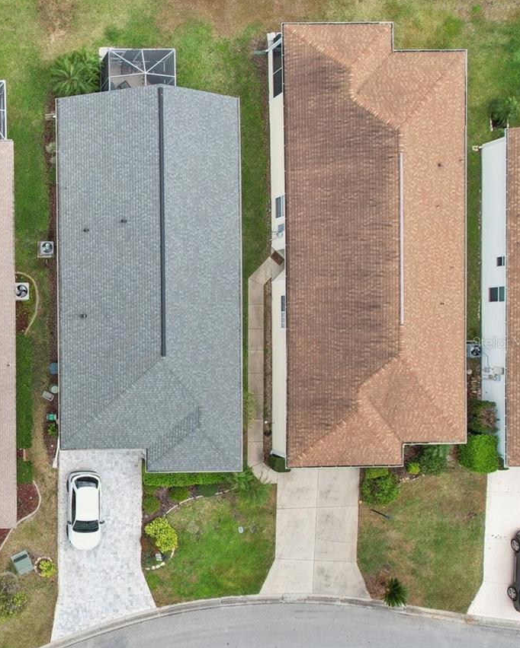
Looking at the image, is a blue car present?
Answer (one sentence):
No, I find no blue car anywhere in the image.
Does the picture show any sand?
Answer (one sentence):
No, no sand is visible.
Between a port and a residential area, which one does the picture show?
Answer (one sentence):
It's a residential area.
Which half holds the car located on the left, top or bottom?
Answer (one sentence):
Seen from above, the car located on the left lies in the bottom half of the view.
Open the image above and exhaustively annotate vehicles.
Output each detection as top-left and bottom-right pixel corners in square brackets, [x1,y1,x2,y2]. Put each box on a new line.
[507,530,520,615]
[65,474,105,552]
